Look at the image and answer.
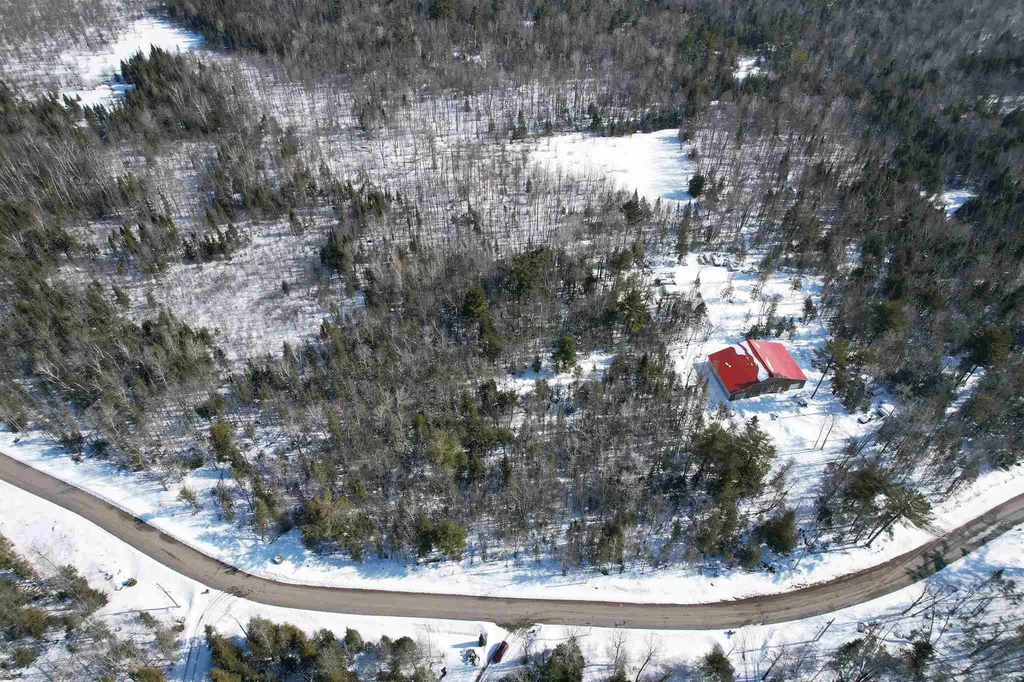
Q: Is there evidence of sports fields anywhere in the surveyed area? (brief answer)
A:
No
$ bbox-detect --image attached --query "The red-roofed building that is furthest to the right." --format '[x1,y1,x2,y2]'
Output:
[712,339,810,401]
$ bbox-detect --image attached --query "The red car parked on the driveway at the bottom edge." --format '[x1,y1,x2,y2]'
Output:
[488,637,510,666]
